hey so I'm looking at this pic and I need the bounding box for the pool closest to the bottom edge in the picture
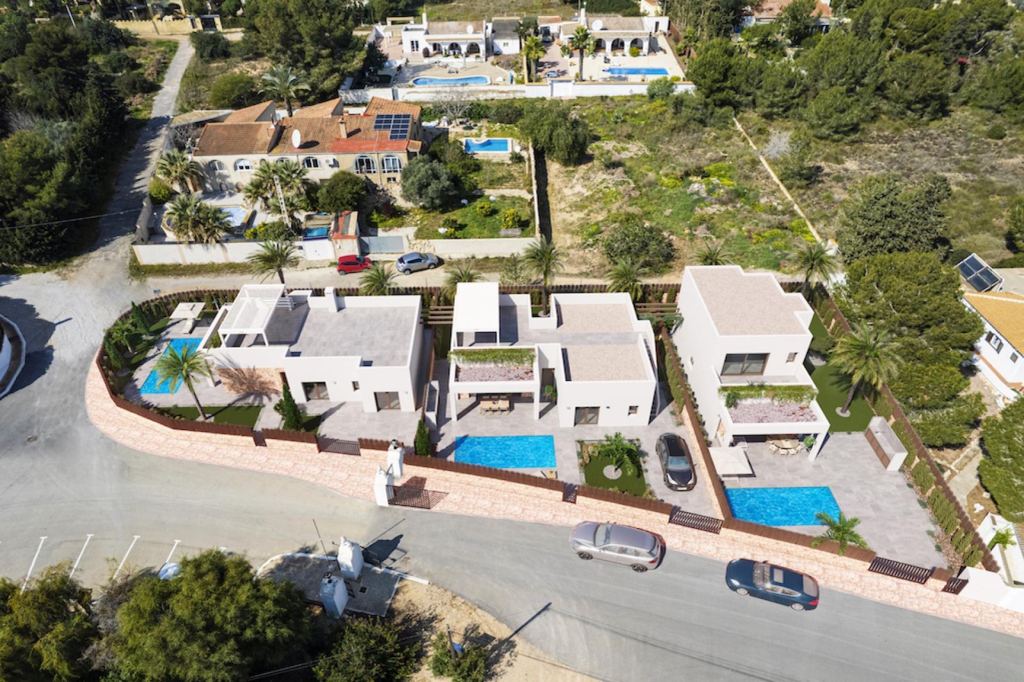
[720,483,847,530]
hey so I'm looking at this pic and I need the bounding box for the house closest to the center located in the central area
[449,283,661,427]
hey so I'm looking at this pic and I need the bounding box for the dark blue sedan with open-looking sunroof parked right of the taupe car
[723,551,823,611]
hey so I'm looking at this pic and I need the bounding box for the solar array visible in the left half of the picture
[369,110,406,146]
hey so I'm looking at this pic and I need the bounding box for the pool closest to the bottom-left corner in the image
[134,336,208,396]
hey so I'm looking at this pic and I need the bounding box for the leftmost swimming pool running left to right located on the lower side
[450,433,562,472]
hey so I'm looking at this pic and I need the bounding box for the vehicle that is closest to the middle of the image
[393,249,441,275]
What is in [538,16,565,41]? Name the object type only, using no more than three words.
building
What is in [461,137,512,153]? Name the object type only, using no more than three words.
swimming pool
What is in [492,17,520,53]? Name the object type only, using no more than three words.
shed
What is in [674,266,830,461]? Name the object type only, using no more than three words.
house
